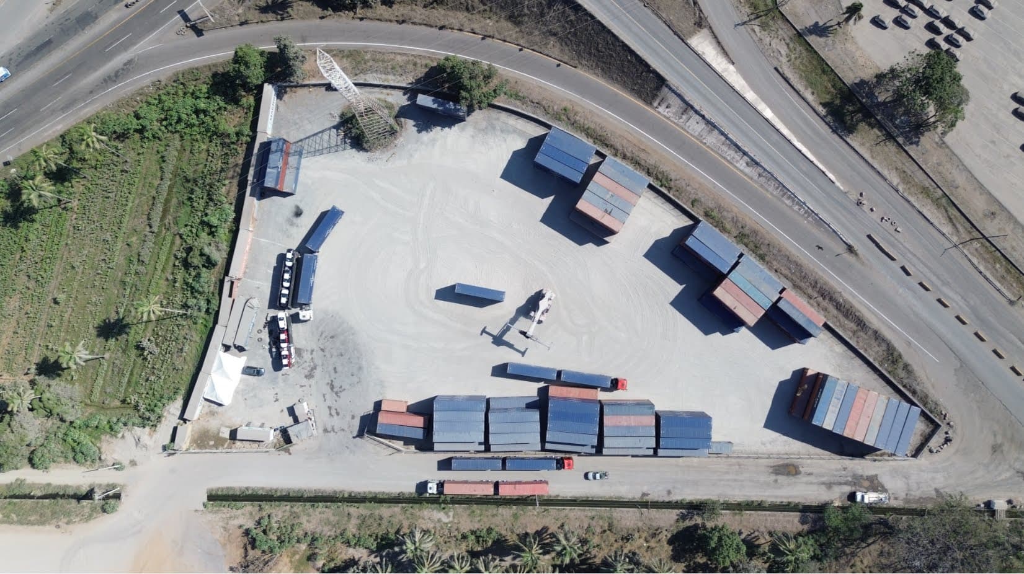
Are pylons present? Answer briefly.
Yes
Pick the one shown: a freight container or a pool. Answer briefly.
freight container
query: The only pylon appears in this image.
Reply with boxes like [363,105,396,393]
[319,48,398,140]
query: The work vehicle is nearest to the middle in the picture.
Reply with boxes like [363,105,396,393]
[508,286,557,347]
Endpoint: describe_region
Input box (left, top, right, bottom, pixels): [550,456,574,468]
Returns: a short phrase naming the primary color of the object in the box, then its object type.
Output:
red vehicle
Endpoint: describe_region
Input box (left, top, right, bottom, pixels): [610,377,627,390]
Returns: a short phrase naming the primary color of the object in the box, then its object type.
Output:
red vehicle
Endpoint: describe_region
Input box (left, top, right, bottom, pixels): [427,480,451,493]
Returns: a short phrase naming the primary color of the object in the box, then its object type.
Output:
white vehicle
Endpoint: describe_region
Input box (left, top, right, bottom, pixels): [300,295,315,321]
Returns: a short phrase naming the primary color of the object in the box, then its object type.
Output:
white vehicle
